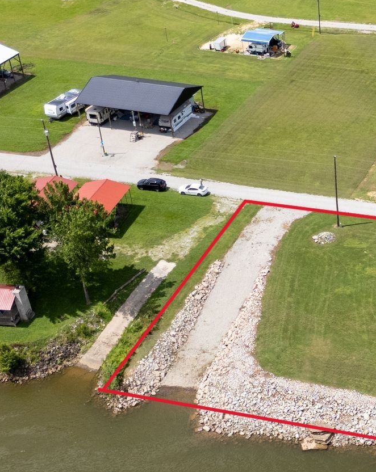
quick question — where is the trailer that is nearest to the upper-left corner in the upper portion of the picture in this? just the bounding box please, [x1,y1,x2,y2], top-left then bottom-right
[49,83,86,118]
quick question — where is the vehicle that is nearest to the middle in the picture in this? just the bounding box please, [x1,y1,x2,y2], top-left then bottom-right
[177,180,209,195]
